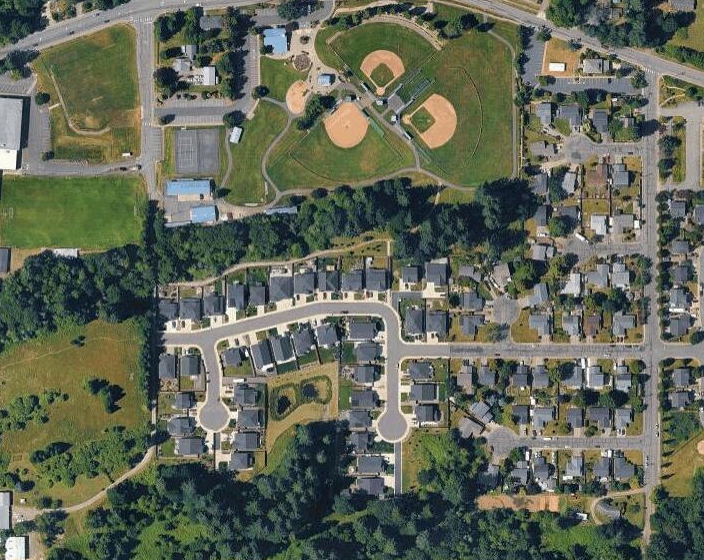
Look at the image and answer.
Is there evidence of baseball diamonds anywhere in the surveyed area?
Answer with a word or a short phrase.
Yes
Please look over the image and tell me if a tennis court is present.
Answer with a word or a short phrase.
Yes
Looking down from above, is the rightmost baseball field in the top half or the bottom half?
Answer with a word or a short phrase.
top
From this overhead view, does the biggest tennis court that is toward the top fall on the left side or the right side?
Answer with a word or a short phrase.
left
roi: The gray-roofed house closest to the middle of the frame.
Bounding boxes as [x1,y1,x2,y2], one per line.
[343,270,362,290]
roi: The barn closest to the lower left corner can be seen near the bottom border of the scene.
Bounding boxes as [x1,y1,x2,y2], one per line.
[5,537,25,560]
